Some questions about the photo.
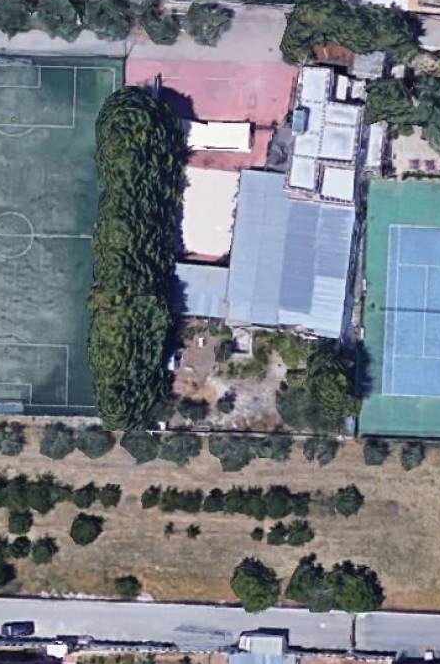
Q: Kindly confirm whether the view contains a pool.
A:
No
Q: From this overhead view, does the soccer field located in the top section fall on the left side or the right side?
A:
left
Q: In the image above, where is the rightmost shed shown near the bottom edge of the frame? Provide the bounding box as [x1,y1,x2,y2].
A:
[245,632,287,655]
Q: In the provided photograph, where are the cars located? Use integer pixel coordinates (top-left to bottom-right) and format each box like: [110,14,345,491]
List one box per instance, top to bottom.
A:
[1,621,35,636]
